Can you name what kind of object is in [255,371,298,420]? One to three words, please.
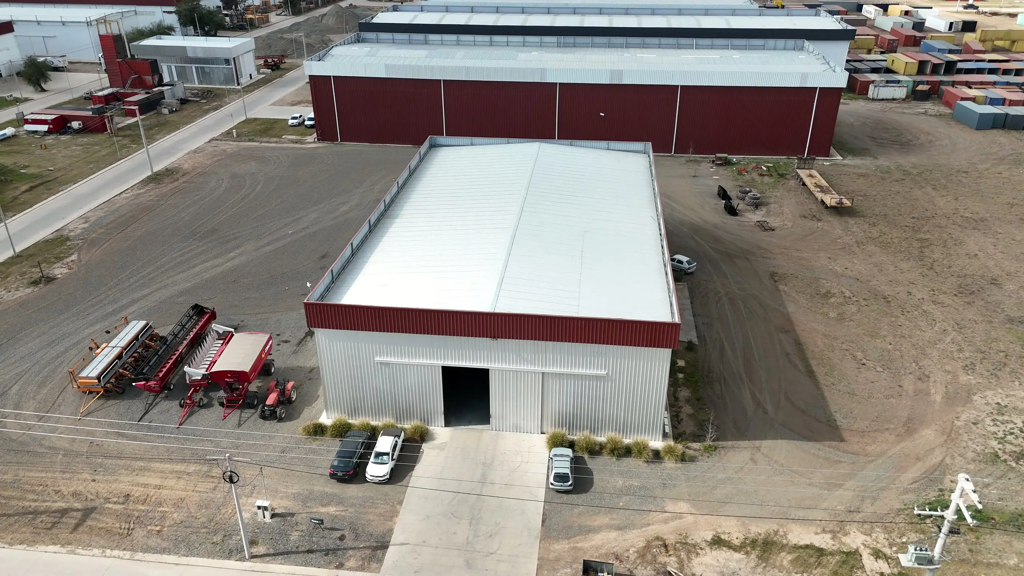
work vehicle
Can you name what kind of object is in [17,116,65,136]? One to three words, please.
trailer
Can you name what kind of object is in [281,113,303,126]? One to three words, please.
vehicle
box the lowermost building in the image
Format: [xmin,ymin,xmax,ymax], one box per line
[303,136,682,446]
